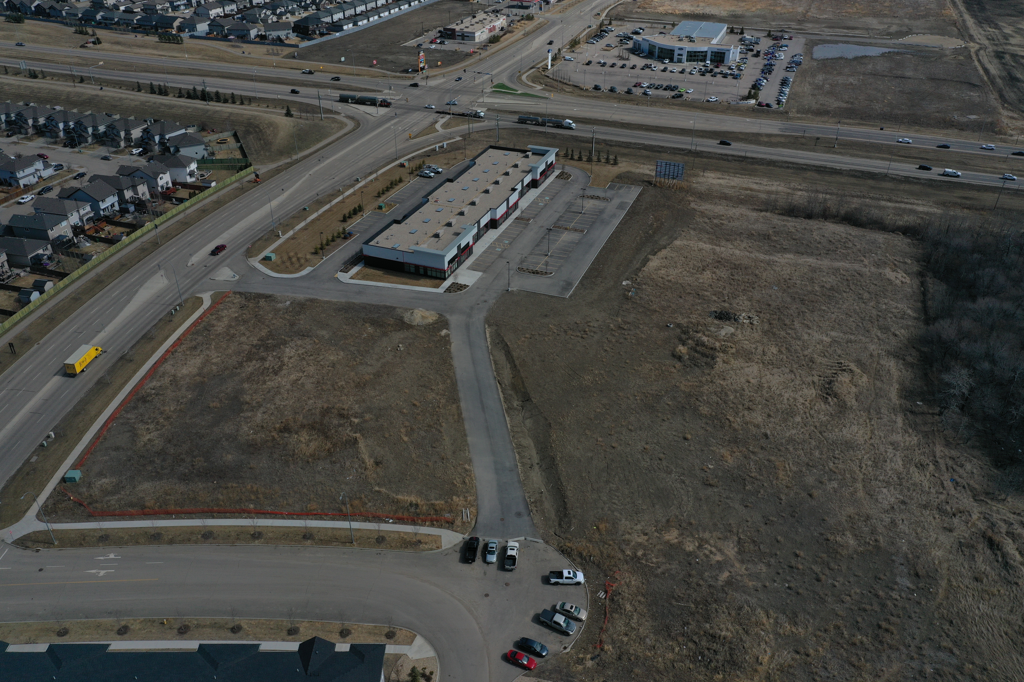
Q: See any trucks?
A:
Yes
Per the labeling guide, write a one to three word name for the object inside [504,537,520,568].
vehicle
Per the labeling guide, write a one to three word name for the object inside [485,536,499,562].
car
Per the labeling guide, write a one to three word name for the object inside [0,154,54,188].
house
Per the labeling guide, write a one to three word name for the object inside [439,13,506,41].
building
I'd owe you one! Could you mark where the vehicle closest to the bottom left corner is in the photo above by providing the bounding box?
[62,344,103,377]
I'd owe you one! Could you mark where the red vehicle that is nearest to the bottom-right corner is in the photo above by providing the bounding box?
[504,646,538,671]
